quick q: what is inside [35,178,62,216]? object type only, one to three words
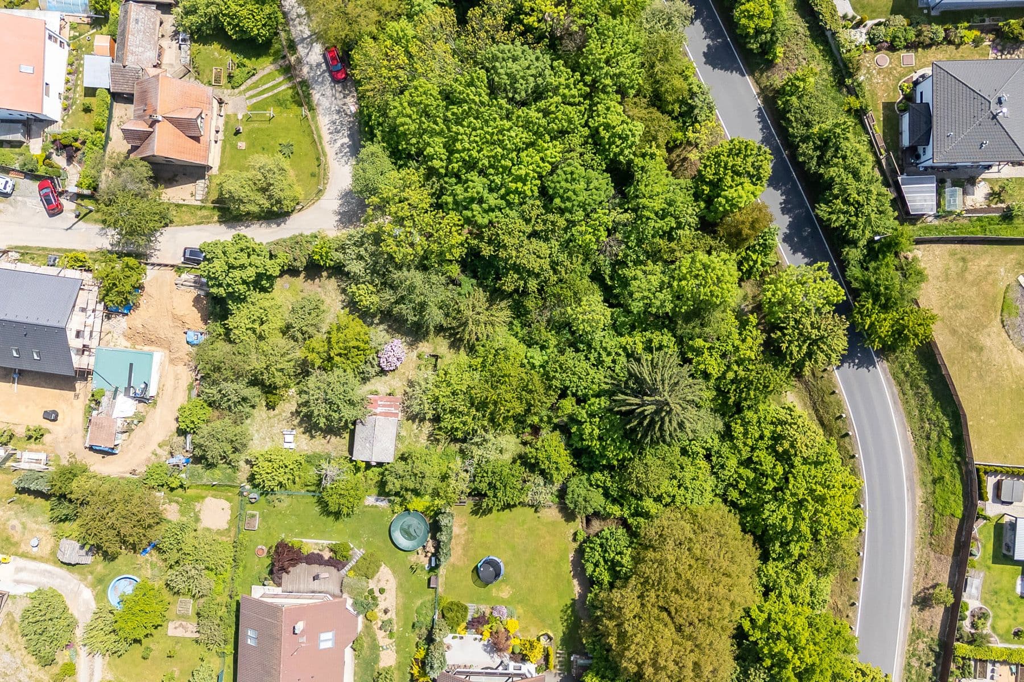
car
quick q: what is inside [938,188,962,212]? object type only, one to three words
greenhouse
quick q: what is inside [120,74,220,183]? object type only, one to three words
house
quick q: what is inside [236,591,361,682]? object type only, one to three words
house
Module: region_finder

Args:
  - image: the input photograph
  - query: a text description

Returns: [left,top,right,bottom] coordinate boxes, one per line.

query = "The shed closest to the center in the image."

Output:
[352,396,403,461]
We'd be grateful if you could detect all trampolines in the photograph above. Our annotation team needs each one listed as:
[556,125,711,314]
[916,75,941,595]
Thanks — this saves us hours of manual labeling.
[474,562,501,593]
